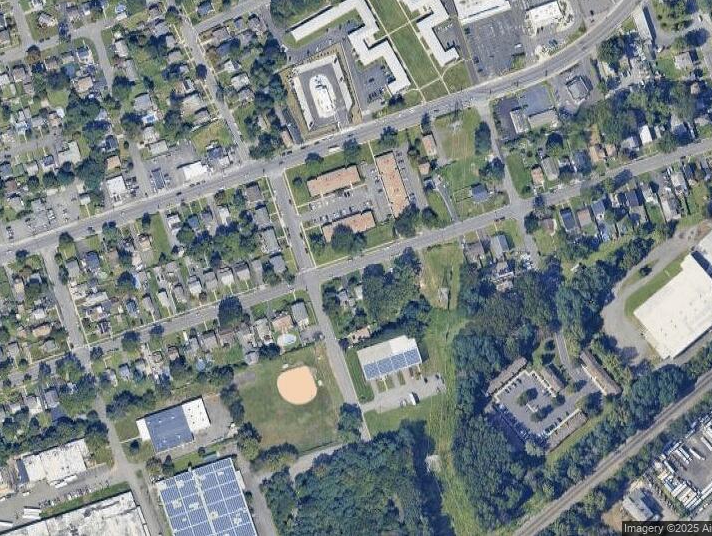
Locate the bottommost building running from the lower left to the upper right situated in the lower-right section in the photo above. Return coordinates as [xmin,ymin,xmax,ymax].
[542,412,587,453]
